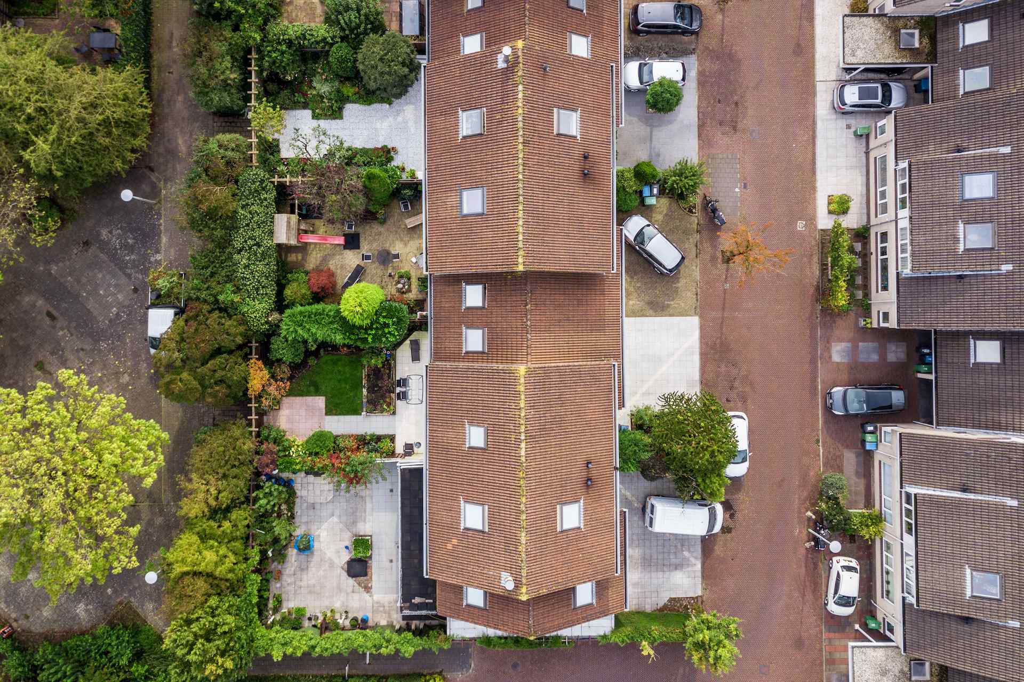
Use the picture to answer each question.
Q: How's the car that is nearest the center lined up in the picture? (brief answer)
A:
diagonally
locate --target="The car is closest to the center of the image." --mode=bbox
[622,214,688,280]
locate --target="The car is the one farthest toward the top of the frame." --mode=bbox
[628,0,701,40]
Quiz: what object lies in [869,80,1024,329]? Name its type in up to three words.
house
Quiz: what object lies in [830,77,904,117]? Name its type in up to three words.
car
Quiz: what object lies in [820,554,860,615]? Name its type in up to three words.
car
